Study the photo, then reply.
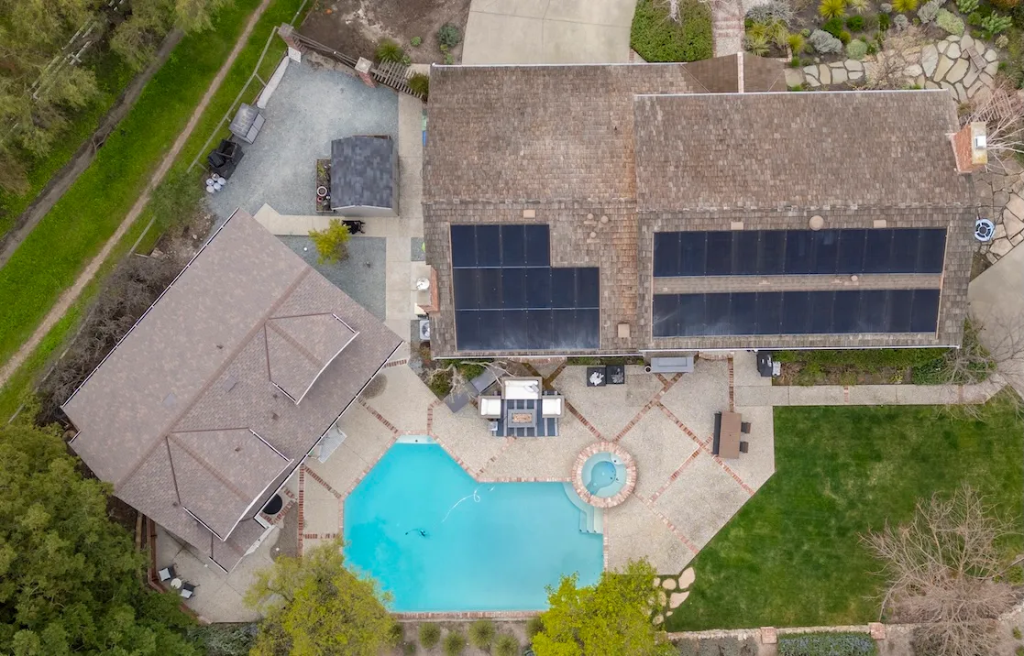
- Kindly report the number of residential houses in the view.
two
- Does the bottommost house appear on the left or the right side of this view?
left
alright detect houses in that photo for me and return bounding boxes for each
[59,208,404,573]
[410,51,990,359]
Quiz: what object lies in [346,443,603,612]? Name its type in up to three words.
swimming pool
